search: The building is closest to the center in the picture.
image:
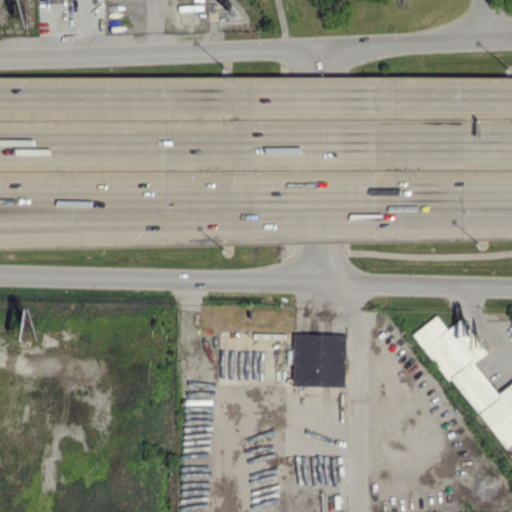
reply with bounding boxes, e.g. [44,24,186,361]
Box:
[294,333,346,386]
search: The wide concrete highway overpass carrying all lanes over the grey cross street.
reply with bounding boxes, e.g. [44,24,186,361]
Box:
[283,78,351,244]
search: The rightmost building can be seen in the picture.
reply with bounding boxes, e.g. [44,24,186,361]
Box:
[414,316,512,450]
